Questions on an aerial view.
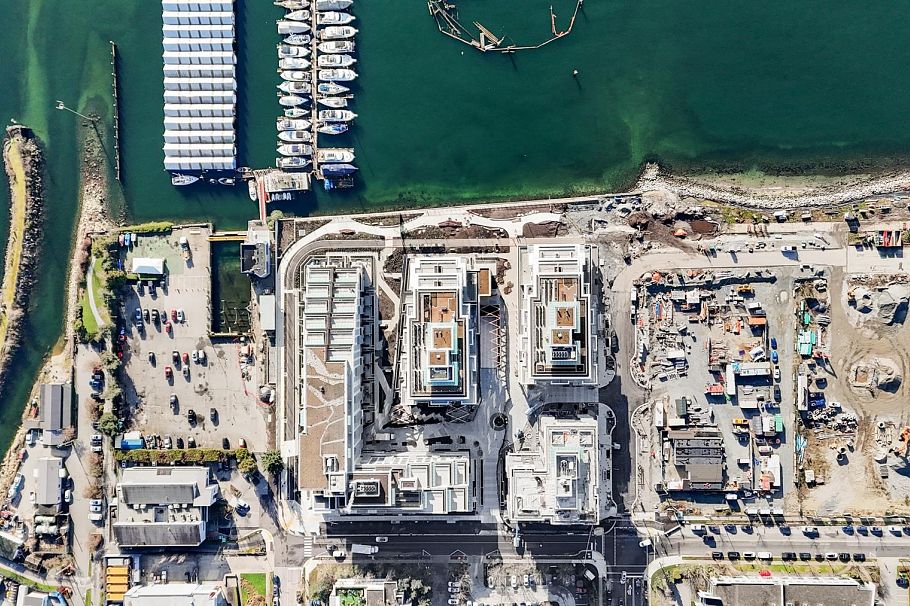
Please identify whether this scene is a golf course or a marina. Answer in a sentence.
The area seen from above is a marina.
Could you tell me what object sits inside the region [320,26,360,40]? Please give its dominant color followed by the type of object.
white boat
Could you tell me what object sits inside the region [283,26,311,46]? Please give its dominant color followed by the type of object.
white boat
